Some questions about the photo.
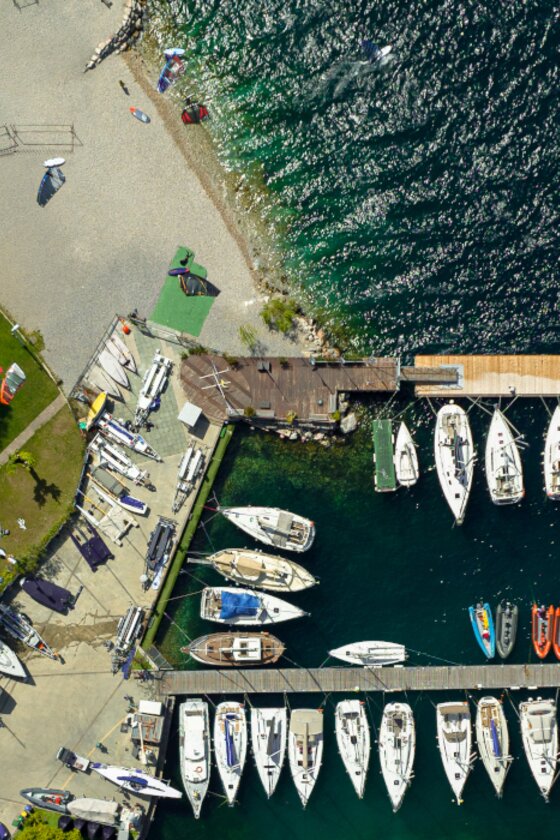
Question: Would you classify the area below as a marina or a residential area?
marina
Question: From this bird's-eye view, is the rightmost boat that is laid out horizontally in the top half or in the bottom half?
bottom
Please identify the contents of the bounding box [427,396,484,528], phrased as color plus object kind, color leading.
white boat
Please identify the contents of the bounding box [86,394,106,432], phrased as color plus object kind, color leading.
yellow boat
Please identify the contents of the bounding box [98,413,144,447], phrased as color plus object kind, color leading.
white boat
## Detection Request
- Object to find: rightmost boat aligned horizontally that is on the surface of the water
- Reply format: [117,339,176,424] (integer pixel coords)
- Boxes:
[319,641,424,669]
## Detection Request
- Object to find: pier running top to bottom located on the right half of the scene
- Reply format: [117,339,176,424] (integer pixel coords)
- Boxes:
[373,421,397,491]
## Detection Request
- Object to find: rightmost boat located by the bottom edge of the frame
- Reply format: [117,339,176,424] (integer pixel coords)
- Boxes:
[506,688,560,806]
